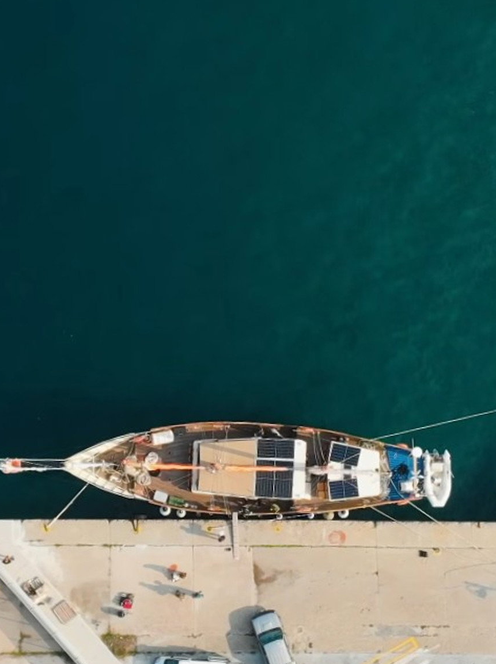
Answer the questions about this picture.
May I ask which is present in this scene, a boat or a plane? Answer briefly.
boat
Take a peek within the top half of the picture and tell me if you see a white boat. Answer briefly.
No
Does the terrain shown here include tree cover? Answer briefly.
No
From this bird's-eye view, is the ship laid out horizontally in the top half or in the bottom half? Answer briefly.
bottom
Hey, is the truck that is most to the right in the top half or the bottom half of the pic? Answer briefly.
bottom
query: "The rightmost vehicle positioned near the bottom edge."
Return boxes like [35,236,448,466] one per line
[251,605,295,664]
